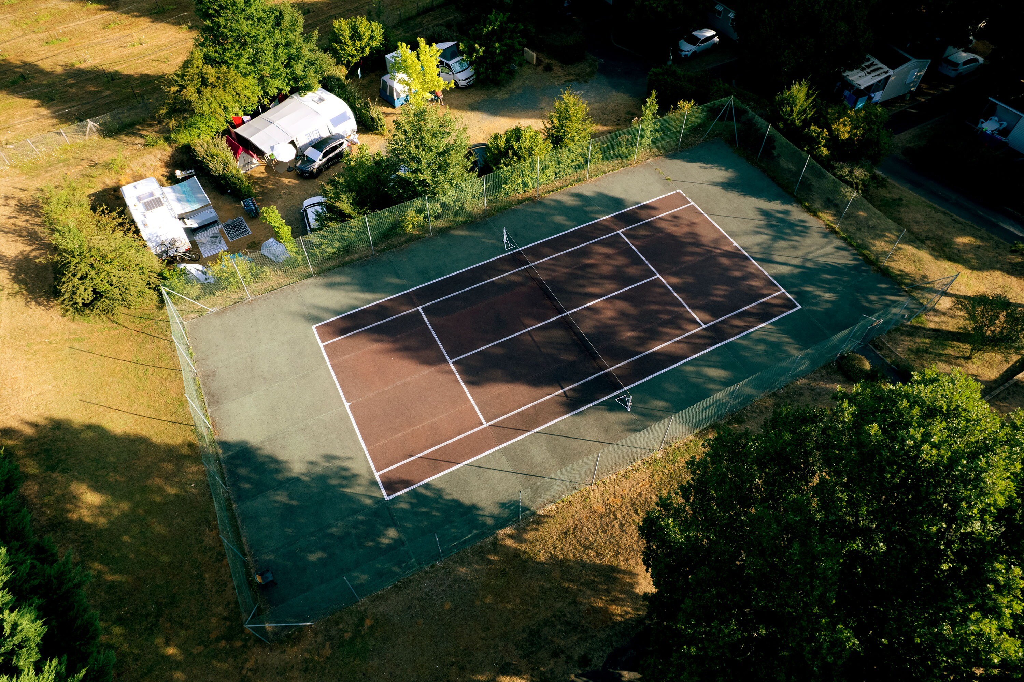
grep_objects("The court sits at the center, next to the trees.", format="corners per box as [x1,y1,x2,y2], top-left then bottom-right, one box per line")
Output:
[185,140,932,643]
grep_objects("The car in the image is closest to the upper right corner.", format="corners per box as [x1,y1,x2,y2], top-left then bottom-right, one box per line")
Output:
[929,48,992,78]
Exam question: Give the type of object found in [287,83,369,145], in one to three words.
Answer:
camper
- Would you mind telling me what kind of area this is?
sports ground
